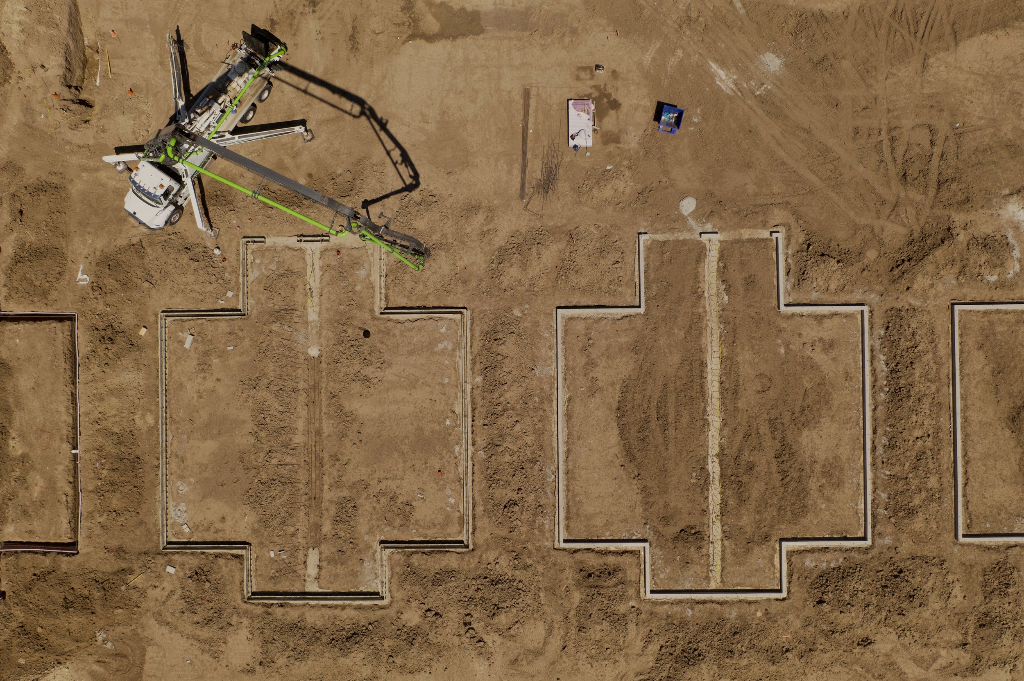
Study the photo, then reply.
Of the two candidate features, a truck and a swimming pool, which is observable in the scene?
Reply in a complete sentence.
The one in the frame is a truck.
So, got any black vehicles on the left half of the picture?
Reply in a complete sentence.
No, no black vehicle is visible on the left half of the picture.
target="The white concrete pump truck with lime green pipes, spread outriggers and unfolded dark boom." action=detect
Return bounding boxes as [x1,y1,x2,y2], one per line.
[100,23,435,270]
